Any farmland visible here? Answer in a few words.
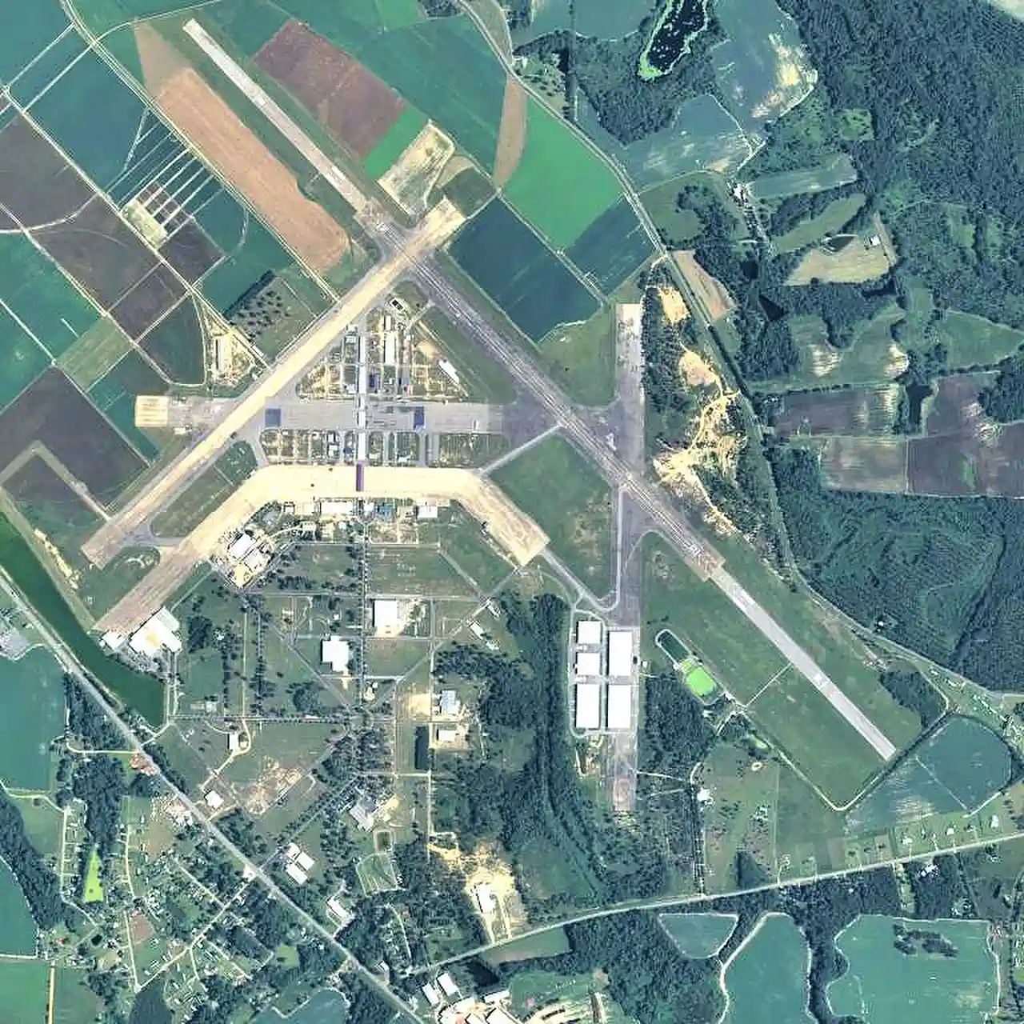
Yes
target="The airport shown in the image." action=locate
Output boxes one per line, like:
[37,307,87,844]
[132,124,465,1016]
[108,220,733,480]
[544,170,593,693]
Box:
[81,19,896,810]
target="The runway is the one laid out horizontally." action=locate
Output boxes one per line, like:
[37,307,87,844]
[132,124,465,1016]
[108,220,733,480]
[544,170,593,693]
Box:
[166,398,502,432]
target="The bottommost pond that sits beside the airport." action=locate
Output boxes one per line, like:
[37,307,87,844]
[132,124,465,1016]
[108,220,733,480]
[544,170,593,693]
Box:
[0,510,166,727]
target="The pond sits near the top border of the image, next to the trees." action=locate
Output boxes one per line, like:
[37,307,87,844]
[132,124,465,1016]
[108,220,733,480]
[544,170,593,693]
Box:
[648,0,702,70]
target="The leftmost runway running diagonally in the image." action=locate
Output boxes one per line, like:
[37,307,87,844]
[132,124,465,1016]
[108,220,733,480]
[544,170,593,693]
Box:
[87,199,465,568]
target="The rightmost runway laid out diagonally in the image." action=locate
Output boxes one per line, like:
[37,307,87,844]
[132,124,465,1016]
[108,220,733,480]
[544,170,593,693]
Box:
[352,196,705,581]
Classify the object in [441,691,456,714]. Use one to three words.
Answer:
building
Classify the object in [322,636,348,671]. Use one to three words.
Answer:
building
